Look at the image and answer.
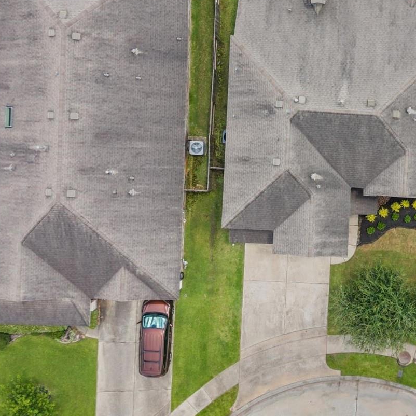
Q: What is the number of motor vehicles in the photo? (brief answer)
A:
1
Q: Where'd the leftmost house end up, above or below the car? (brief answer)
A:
above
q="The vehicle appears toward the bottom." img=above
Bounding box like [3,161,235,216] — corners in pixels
[134,300,173,377]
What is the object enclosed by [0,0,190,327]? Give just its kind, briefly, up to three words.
house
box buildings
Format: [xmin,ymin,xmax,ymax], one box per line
[222,0,416,259]
[0,0,190,327]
